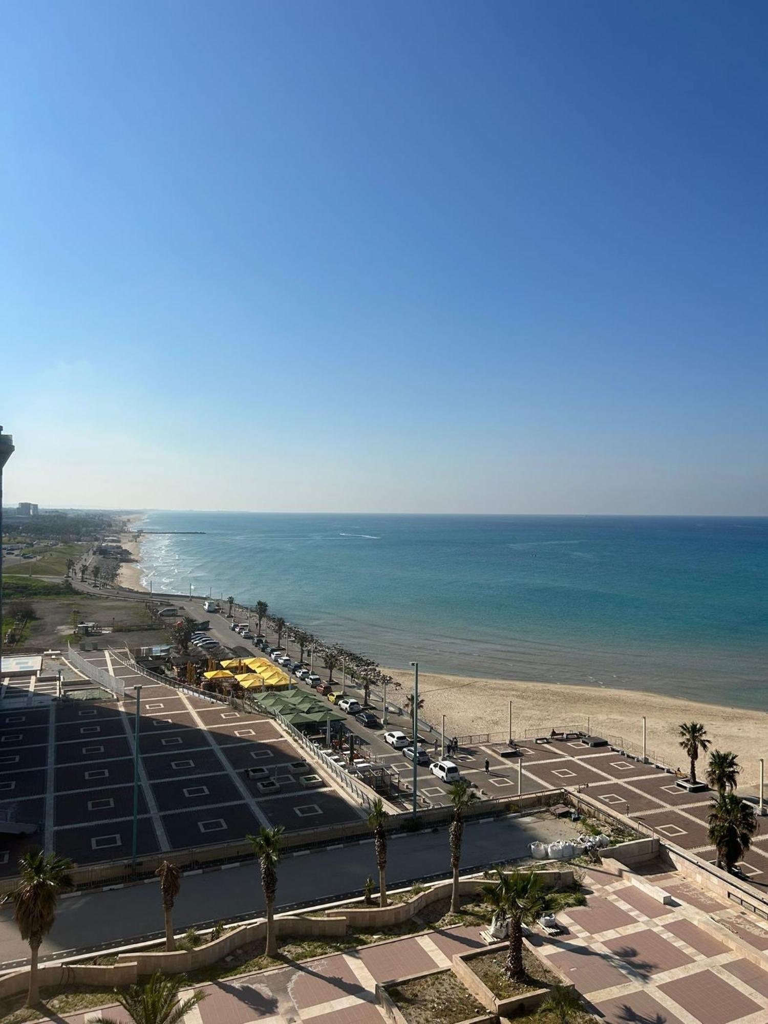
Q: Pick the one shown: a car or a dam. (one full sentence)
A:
Looking from above, you can make out a car.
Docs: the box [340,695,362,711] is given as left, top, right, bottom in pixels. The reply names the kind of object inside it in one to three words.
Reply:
car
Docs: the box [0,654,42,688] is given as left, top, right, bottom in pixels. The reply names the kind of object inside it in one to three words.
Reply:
building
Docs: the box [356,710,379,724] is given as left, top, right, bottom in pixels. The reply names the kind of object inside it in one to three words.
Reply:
car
